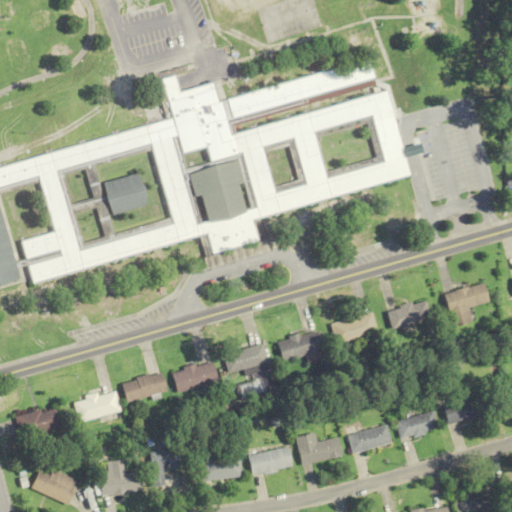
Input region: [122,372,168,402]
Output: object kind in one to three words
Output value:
house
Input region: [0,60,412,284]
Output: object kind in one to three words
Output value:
building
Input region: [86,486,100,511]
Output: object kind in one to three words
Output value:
camper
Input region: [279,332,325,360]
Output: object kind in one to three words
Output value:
house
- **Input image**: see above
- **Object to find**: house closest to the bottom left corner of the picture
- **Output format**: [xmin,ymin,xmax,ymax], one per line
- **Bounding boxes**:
[32,470,76,504]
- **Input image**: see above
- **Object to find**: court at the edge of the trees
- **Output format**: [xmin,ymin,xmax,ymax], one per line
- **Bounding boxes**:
[258,0,322,44]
